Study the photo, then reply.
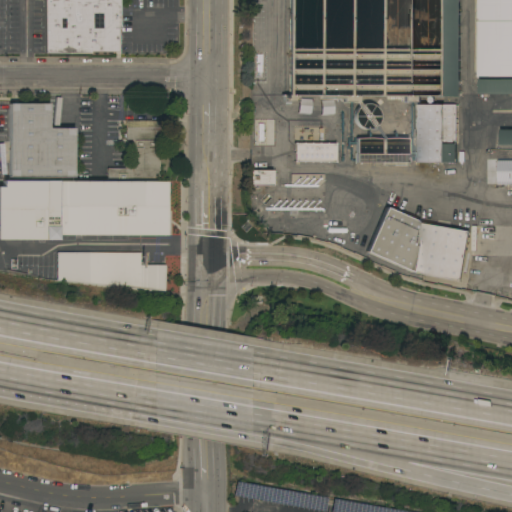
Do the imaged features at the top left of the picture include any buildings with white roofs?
Yes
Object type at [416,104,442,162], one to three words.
building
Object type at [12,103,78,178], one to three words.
building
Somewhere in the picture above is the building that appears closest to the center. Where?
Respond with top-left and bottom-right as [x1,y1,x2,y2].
[253,170,276,186]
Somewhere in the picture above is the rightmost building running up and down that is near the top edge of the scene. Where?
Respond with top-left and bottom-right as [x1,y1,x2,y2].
[476,0,512,78]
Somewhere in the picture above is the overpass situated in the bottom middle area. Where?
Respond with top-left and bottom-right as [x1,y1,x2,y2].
[157,320,253,448]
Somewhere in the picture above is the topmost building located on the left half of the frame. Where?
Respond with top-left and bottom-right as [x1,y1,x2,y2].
[47,0,123,54]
